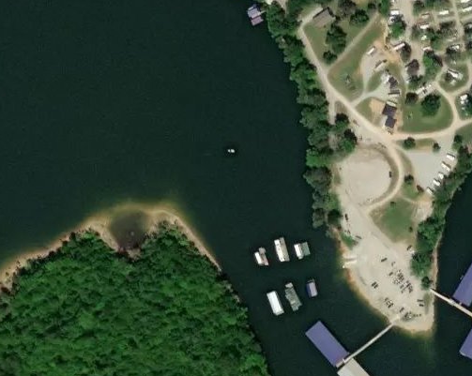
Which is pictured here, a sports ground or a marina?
marina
